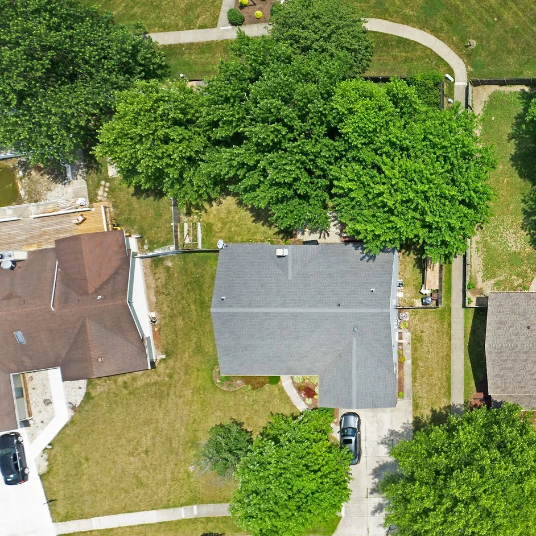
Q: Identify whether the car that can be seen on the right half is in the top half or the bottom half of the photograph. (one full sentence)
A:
The bottom half of the photo is where the car that can be seen on the right half is.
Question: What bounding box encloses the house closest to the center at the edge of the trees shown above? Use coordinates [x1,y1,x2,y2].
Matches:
[208,242,399,409]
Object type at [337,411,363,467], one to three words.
car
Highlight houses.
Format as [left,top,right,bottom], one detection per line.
[0,230,154,432]
[208,242,399,409]
[485,290,536,411]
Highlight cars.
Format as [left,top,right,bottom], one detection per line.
[337,411,363,467]
[0,431,23,488]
